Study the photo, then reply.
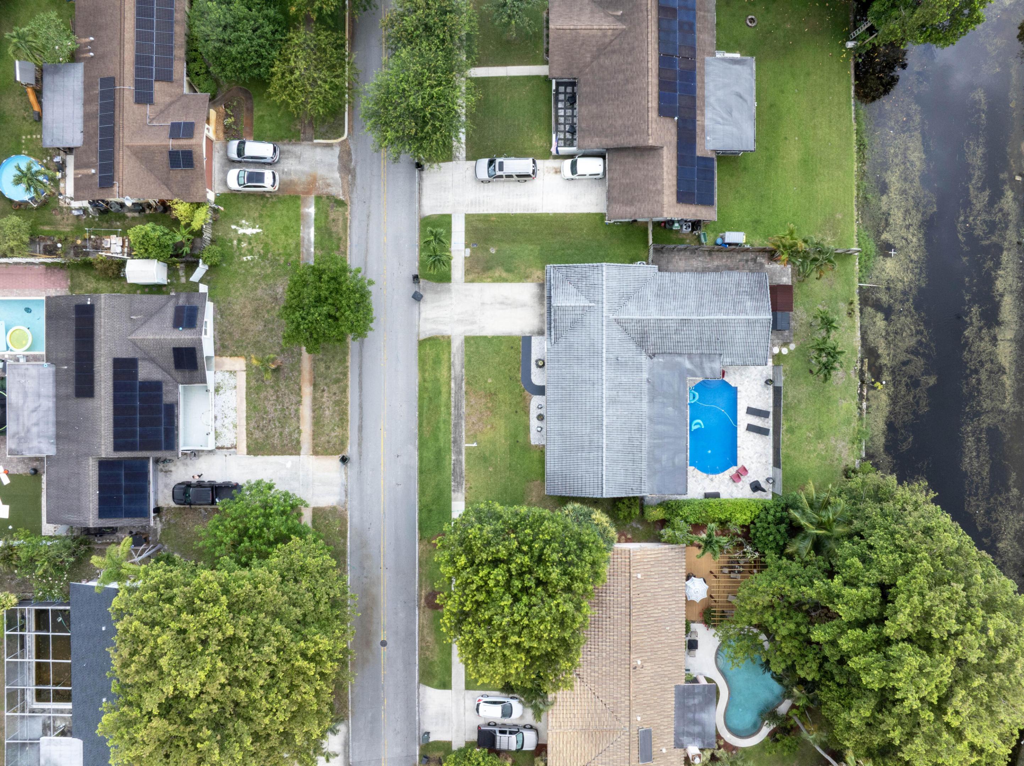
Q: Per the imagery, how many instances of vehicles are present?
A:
7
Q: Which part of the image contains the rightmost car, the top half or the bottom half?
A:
top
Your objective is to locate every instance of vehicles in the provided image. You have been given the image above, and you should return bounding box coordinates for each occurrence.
[227,136,282,166]
[227,166,281,193]
[477,721,539,752]
[476,692,523,721]
[172,480,245,509]
[560,155,605,181]
[475,154,537,184]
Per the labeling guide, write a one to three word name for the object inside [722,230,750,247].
shed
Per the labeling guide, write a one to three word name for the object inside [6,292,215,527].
house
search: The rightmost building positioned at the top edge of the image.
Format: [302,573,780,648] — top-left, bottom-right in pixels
[549,0,756,222]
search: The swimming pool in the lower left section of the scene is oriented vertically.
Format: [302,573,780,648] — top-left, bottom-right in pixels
[32,609,71,705]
